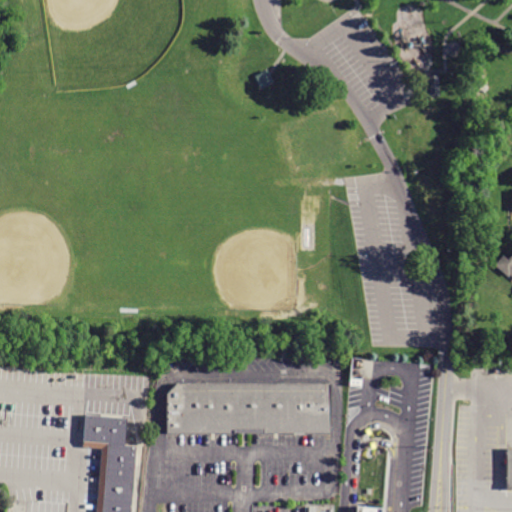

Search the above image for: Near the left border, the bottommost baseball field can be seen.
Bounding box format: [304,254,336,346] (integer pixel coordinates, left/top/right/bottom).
[0,210,70,304]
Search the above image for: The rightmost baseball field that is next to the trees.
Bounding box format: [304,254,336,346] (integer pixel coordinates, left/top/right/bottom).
[213,228,297,310]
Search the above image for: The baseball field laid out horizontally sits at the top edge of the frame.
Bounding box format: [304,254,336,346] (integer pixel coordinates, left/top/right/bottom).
[46,0,118,32]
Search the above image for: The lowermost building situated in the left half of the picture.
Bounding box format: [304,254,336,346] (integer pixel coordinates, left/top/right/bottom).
[83,416,136,512]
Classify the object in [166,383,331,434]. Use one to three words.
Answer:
building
